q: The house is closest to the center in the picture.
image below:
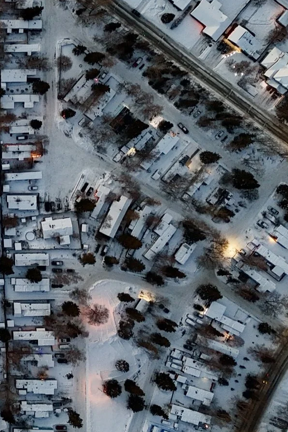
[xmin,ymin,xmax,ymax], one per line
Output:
[126,210,152,237]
